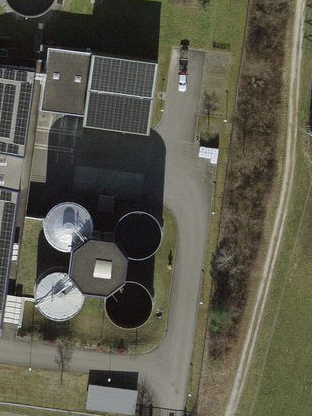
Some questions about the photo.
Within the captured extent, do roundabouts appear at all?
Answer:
No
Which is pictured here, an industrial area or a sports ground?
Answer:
industrial area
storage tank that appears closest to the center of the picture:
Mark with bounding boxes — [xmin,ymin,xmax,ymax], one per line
[113,206,164,260]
